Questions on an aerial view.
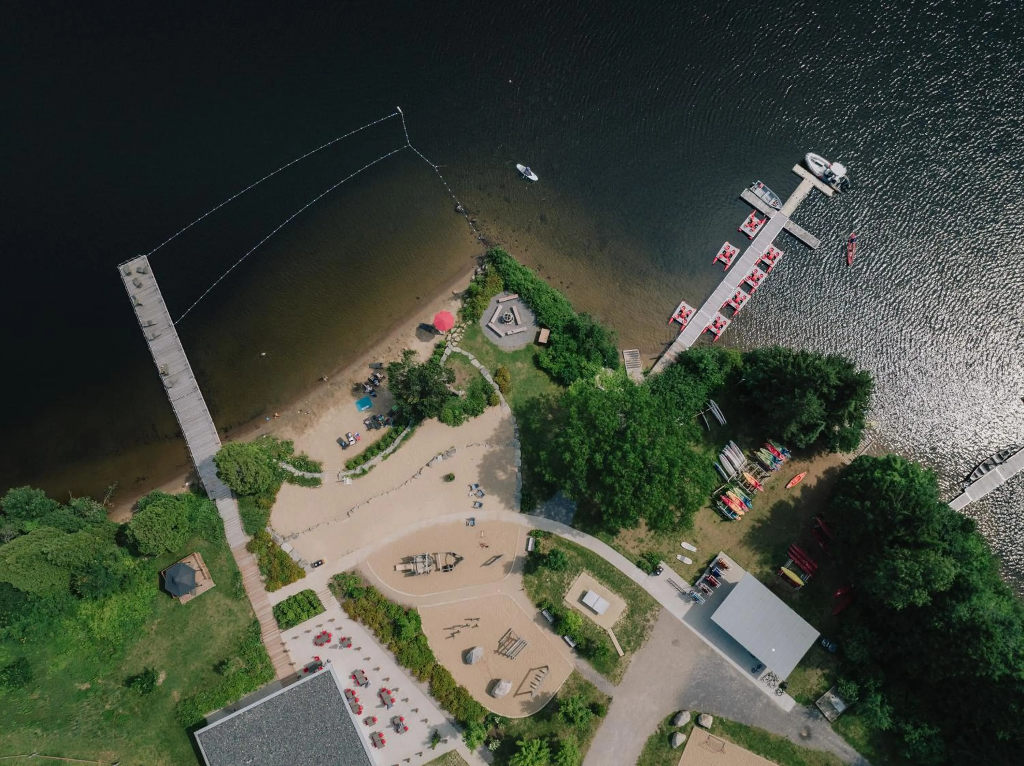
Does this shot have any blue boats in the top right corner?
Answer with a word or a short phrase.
No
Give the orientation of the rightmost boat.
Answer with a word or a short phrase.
diagonally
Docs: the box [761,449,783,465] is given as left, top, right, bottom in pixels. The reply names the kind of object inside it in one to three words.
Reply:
boat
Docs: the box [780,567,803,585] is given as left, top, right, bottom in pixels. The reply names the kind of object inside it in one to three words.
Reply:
boat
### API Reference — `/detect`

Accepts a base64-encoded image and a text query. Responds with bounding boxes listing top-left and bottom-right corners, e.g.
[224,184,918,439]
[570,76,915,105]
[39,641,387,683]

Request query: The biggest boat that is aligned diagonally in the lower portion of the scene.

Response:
[965,447,1011,482]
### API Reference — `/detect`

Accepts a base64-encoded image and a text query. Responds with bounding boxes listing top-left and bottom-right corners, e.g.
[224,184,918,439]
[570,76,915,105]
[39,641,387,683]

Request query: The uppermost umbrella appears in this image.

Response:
[435,312,456,332]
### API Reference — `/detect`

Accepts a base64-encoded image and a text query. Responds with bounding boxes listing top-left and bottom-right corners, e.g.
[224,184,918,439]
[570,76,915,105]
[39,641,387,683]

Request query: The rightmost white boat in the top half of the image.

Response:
[809,152,849,193]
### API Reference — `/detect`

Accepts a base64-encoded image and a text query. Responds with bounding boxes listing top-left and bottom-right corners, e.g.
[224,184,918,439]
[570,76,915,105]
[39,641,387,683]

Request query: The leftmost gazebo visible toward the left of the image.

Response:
[159,552,216,604]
